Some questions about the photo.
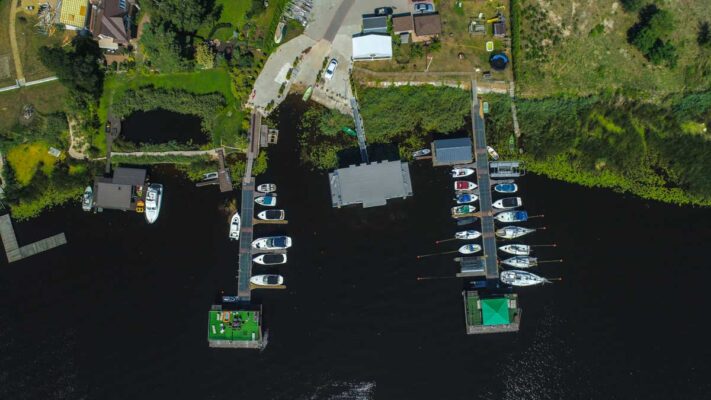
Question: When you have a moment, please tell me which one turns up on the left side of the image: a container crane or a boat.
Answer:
boat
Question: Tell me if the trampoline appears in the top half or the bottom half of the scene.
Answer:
top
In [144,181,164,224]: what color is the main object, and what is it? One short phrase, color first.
white boat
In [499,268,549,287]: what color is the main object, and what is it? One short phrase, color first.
white boat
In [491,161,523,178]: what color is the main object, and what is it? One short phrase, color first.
gray boat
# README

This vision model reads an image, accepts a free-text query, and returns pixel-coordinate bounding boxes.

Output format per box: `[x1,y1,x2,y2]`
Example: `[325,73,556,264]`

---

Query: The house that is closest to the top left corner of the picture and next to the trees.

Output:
[53,0,95,33]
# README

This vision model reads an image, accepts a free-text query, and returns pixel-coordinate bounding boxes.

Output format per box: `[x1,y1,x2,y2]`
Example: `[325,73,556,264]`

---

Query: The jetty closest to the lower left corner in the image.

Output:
[0,214,67,262]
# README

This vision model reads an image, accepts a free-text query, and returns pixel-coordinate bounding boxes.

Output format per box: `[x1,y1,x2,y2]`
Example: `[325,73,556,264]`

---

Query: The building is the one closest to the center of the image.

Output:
[329,159,412,208]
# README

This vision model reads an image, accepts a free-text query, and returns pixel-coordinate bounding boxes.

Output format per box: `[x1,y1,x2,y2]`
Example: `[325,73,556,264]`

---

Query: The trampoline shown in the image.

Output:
[490,50,512,70]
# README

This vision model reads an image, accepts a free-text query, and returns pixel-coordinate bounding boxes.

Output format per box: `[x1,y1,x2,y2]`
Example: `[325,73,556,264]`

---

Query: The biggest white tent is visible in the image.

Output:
[349,33,394,63]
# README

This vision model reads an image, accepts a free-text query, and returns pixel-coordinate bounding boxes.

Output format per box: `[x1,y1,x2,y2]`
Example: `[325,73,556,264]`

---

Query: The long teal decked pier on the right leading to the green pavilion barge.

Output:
[452,105,515,278]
